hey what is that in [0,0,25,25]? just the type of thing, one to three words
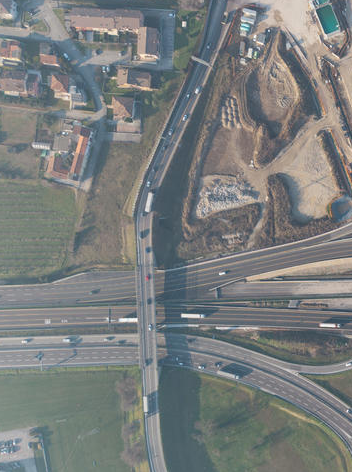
house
